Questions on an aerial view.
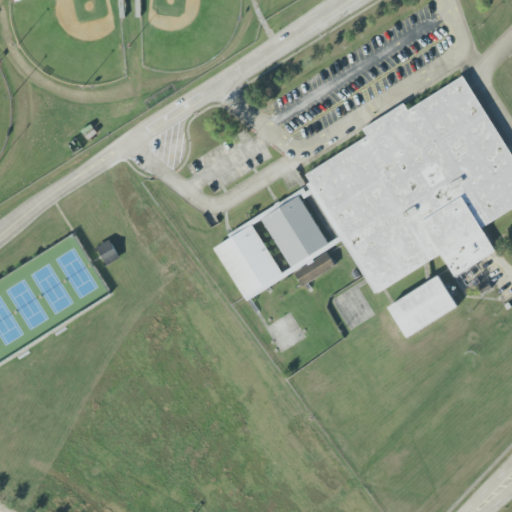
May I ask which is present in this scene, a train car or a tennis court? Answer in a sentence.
I can see a tennis court in this picture.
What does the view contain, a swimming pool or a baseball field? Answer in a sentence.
The image shows a baseball field.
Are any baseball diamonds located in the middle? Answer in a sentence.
No, looking in the middle, there is no baseball diamond.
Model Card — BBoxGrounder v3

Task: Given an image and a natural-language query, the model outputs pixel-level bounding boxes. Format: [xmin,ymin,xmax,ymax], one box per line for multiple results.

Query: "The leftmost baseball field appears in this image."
[56,0,114,40]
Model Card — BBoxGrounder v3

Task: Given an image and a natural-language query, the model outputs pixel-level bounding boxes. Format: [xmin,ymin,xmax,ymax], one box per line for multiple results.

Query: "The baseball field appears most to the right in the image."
[148,0,200,30]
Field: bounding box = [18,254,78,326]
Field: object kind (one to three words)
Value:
tennis court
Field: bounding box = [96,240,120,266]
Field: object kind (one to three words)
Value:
shed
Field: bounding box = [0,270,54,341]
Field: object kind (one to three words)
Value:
tennis court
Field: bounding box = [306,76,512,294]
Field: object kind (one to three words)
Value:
building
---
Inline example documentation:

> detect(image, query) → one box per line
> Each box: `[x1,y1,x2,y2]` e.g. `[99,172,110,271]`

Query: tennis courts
[43,236,109,310]
[18,254,78,326]
[0,296,29,359]
[0,270,54,341]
